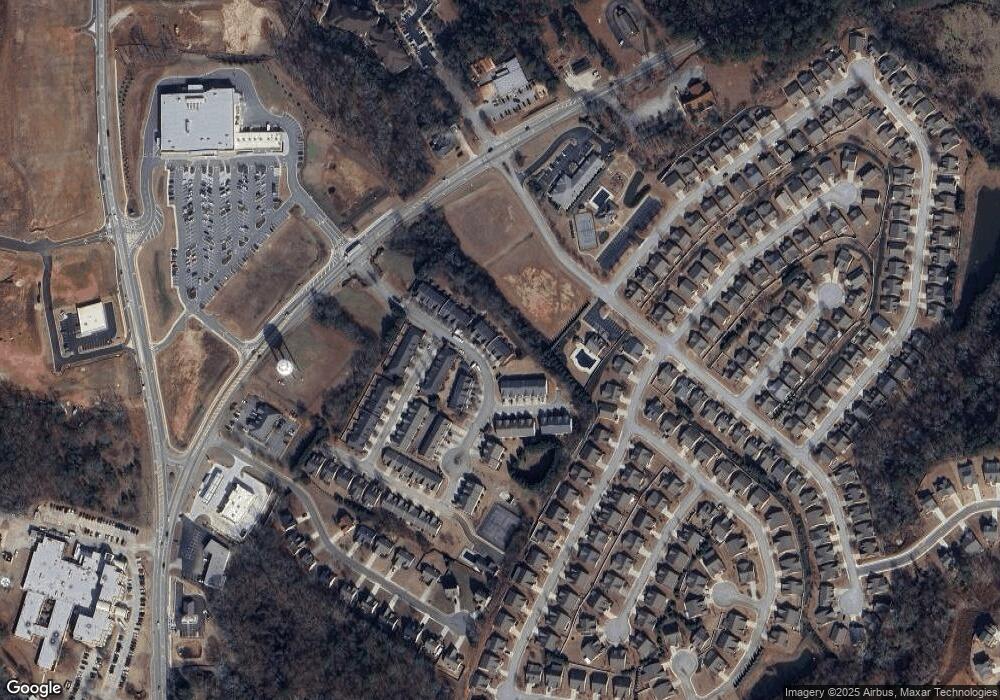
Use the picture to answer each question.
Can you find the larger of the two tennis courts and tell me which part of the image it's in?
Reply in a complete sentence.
The larger of the two tennis courts appears toward the bottom of the photo.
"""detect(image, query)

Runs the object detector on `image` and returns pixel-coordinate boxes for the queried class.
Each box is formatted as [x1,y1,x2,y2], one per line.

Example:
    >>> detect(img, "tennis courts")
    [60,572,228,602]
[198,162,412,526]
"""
[477,503,522,552]
[573,213,598,251]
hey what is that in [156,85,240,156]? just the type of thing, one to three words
building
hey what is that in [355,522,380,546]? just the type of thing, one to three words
house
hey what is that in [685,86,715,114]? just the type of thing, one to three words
barn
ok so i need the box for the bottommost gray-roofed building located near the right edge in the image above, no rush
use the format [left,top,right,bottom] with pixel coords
[975,658,995,680]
